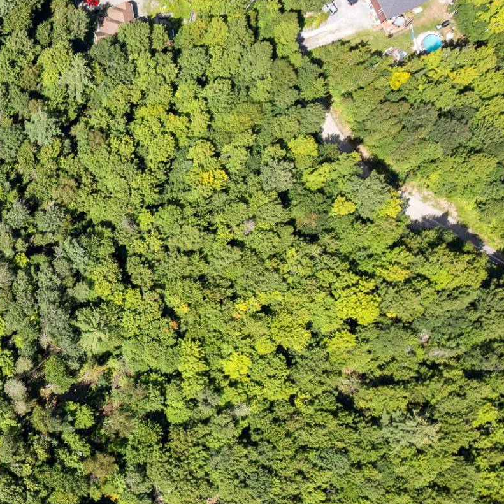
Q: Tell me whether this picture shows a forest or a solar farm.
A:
forest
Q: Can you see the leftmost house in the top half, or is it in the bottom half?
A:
top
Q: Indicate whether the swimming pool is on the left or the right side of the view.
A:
right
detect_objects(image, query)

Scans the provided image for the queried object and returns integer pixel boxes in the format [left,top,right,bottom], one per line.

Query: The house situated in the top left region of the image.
[93,2,134,42]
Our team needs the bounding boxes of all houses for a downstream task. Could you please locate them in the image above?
[365,0,426,36]
[93,2,134,42]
